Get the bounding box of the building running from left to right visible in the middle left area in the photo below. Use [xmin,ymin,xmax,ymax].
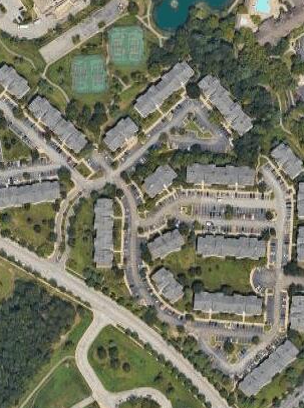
[0,184,62,209]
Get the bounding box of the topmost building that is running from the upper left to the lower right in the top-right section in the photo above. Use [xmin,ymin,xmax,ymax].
[197,77,252,135]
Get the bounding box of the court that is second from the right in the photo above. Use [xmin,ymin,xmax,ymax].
[109,27,127,65]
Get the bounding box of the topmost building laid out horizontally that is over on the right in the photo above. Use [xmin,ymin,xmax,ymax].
[186,165,255,188]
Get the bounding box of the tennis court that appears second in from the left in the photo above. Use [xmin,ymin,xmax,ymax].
[90,57,107,94]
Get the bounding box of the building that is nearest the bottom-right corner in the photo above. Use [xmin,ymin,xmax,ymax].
[243,342,297,393]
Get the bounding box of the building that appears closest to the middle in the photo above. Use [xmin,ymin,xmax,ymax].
[142,164,175,199]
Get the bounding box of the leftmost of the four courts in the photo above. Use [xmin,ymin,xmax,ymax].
[72,57,90,94]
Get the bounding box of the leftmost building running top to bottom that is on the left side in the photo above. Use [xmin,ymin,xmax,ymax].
[95,198,112,269]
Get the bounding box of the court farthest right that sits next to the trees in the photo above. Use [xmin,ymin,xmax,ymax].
[126,27,144,65]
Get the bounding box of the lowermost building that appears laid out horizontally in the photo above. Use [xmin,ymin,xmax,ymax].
[193,292,262,316]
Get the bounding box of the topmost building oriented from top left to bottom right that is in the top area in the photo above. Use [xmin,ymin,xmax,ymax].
[0,64,29,100]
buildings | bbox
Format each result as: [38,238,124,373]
[102,118,138,153]
[142,164,175,199]
[149,232,184,260]
[290,296,304,334]
[31,98,87,155]
[258,0,304,45]
[197,77,252,135]
[196,236,266,259]
[0,184,62,209]
[297,183,304,219]
[95,198,112,269]
[193,292,262,316]
[297,226,304,264]
[0,64,29,100]
[151,271,185,302]
[270,146,304,179]
[186,165,255,188]
[133,63,194,117]
[243,342,297,393]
